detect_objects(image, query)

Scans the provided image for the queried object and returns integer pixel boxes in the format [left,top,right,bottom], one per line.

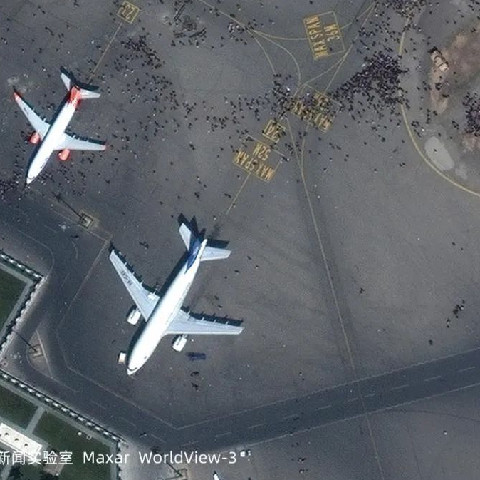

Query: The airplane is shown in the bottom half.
[109,222,242,372]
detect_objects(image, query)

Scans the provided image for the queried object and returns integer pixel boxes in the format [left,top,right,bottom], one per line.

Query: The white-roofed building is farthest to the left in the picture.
[0,422,42,457]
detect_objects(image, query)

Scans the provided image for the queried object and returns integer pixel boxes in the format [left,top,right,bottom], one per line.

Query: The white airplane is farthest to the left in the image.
[13,73,106,183]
